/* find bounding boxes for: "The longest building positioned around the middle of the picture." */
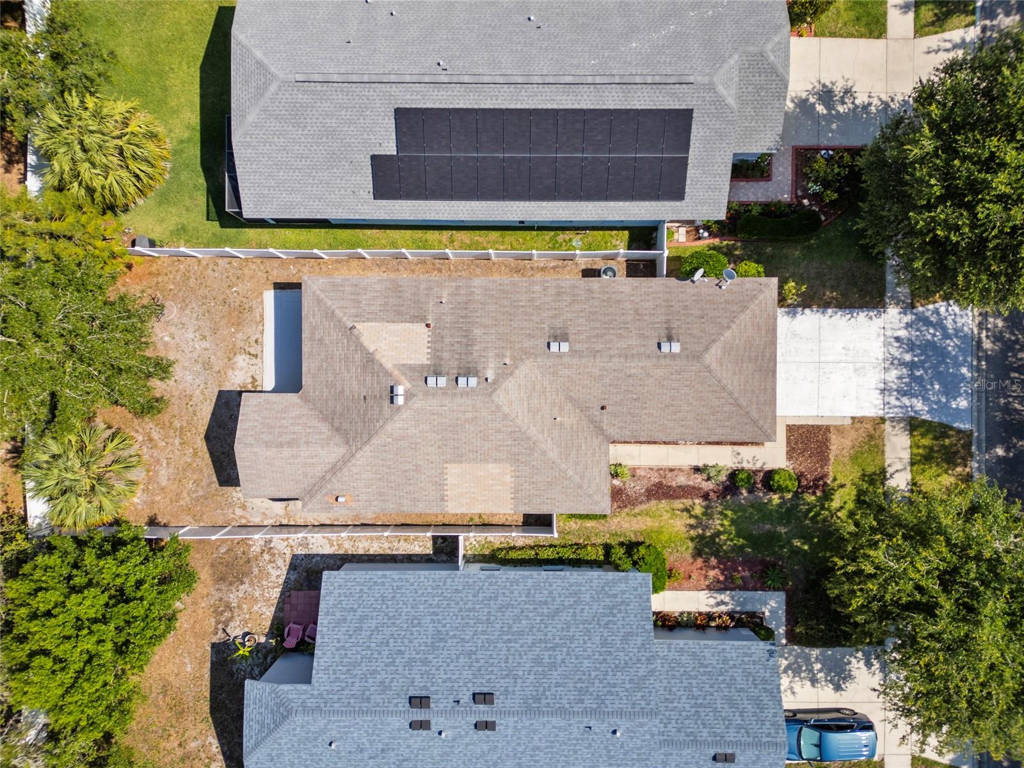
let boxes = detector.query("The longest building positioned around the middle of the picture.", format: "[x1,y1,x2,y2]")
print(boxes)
[232,275,779,515]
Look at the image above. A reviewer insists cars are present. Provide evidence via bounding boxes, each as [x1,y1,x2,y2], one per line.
[785,708,877,766]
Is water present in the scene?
No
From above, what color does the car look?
blue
